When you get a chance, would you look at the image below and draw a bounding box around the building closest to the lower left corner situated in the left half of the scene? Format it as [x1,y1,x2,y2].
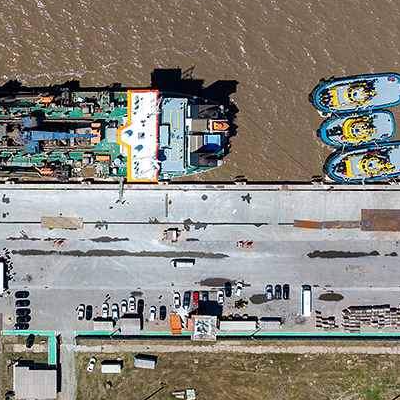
[12,363,57,400]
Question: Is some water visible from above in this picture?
Yes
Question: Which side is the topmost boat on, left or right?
right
